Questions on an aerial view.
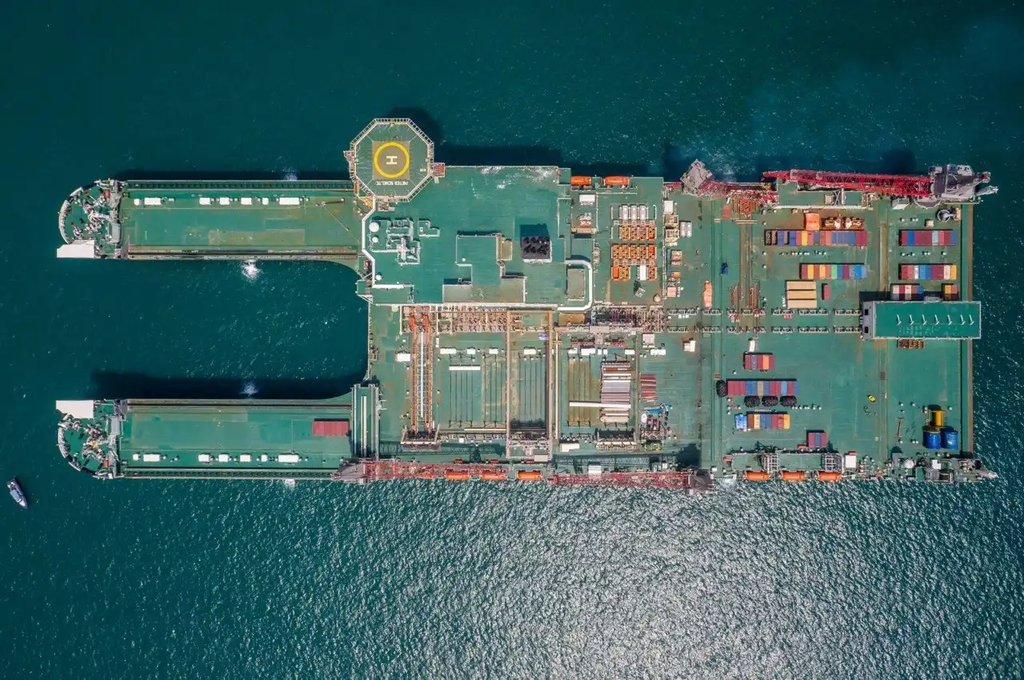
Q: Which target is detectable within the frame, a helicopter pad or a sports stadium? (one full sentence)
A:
Looking from above, you can make out a helicopter pad.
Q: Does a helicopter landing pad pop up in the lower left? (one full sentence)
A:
No, I see no helicopter landing pad in the lower left.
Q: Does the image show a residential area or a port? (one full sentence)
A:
The picture captures a port.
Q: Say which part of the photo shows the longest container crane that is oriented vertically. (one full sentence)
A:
The longest container crane that is oriented vertically sits in the center section of the image.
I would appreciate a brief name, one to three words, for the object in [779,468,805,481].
boat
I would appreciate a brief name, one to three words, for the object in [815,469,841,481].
boat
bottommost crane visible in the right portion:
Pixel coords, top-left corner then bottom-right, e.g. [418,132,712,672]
[546,462,713,494]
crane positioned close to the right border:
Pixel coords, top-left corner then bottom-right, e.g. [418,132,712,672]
[759,165,1000,209]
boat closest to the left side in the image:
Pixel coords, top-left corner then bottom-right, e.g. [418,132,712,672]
[3,477,27,509]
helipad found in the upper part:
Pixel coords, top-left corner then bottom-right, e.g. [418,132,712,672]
[344,118,446,212]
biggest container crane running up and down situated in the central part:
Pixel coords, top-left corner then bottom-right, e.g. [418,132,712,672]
[506,311,562,462]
